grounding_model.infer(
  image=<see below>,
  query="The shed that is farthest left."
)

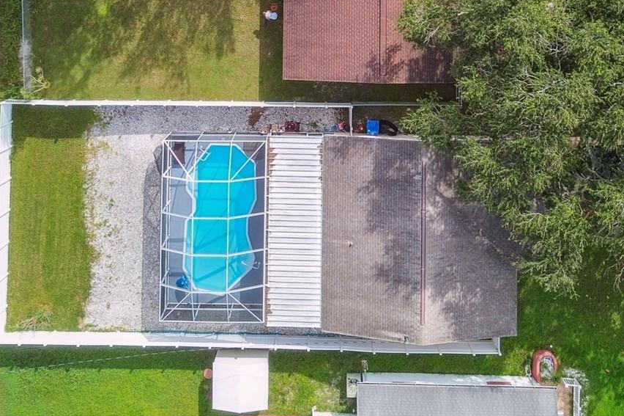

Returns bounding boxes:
[213,348,269,414]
